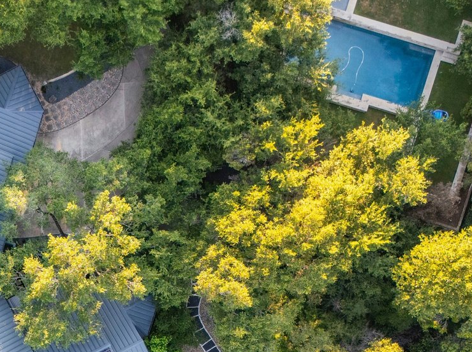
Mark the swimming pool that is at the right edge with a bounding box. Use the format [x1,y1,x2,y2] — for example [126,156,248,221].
[311,4,459,116]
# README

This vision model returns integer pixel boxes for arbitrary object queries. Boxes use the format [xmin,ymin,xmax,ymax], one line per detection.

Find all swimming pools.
[311,4,459,116]
[335,0,357,13]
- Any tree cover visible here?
Yes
